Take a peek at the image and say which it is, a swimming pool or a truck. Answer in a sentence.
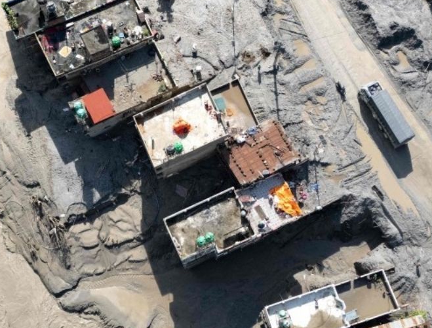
It is a truck that can be seen here.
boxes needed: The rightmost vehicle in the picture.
[356,80,417,152]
